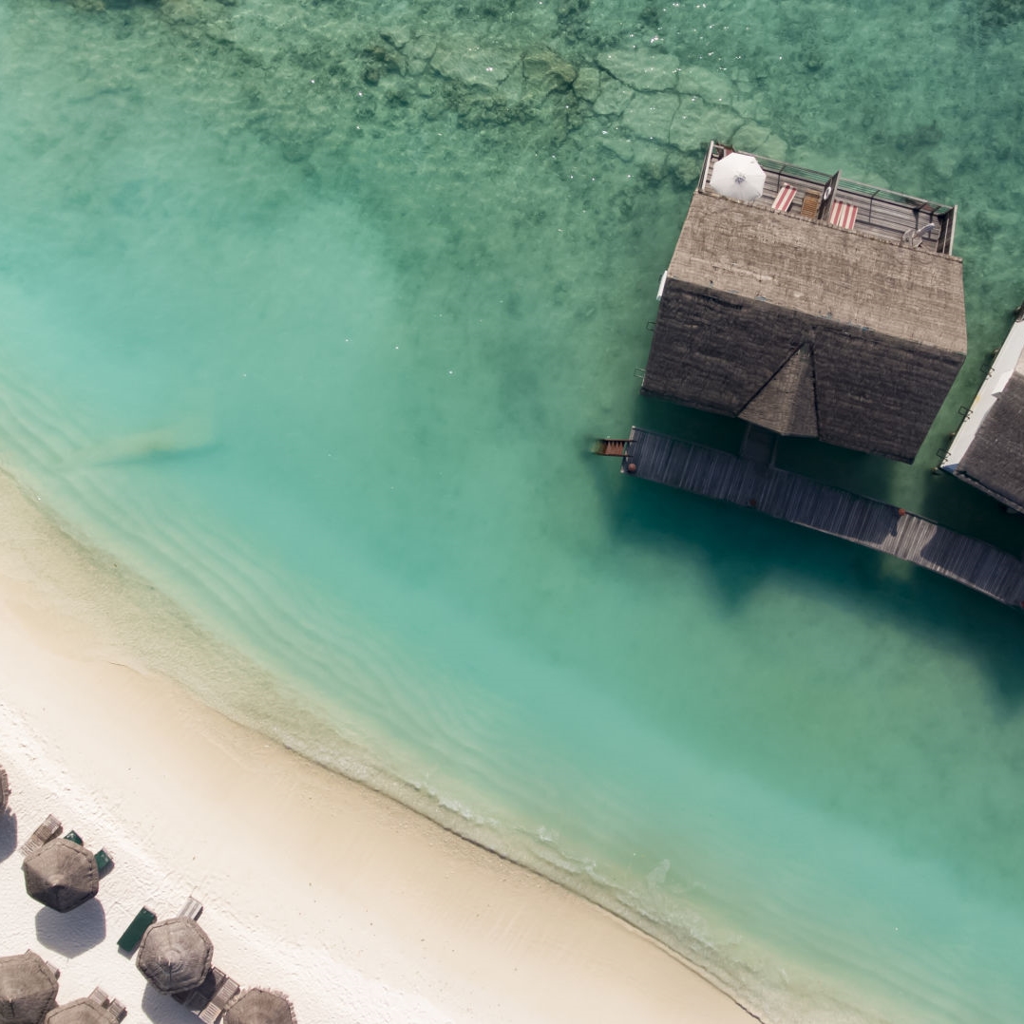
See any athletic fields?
No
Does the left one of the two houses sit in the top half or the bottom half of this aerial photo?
top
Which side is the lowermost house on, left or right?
right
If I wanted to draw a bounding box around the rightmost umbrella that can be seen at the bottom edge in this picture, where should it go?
[220,984,299,1024]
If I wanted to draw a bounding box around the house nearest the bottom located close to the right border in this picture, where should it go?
[924,312,1024,519]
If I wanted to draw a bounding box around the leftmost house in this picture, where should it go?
[632,140,972,461]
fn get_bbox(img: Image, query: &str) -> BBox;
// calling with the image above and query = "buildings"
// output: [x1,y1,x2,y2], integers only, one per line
[924,312,1024,519]
[632,140,972,461]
